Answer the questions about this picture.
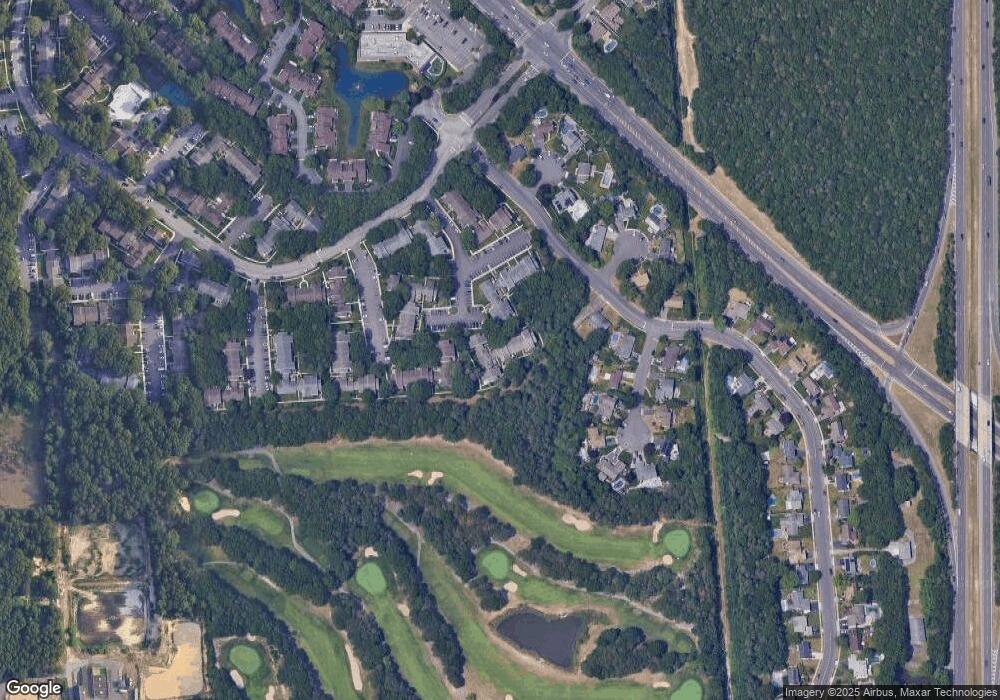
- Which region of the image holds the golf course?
bottom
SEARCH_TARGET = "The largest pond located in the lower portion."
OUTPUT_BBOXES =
[498,610,585,669]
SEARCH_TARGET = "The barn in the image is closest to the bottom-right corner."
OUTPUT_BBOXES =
[909,618,927,645]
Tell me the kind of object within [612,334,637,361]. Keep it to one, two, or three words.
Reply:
house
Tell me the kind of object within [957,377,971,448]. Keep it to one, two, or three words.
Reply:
bridge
